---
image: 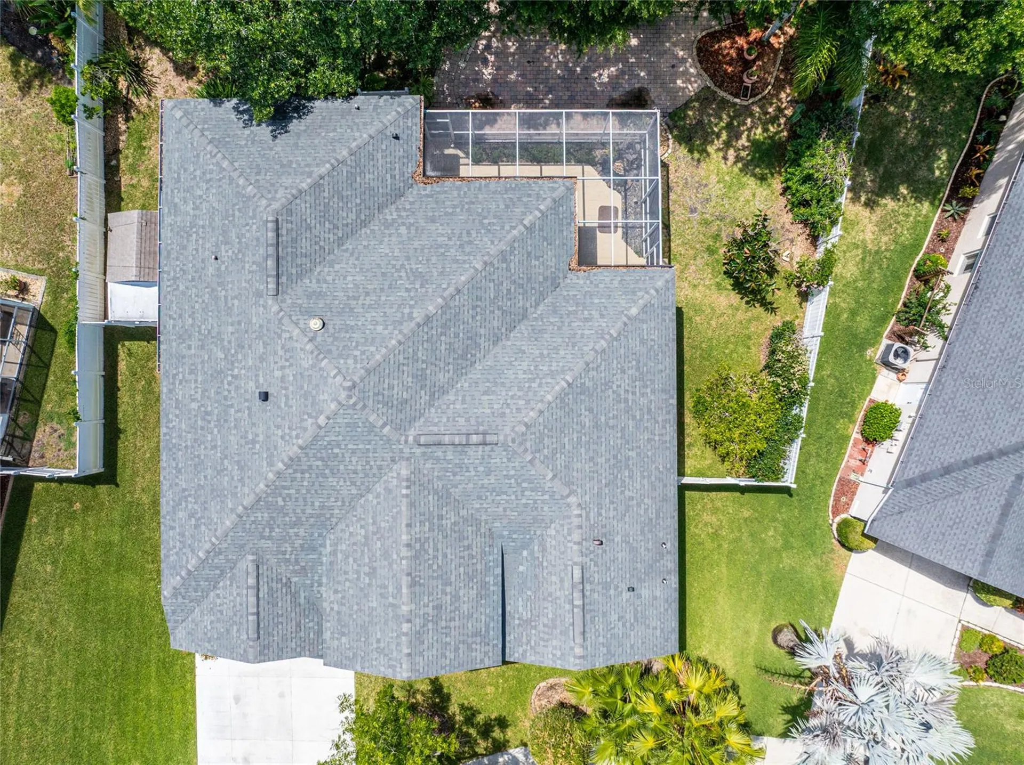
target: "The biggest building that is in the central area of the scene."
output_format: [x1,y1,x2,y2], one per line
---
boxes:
[158,96,677,681]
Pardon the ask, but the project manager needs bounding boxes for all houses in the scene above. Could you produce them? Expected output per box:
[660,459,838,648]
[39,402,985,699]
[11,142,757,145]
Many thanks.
[158,96,677,681]
[848,86,1024,603]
